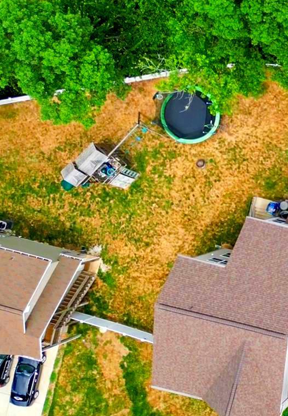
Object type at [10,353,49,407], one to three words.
car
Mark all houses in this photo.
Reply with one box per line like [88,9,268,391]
[0,230,102,366]
[152,215,288,416]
